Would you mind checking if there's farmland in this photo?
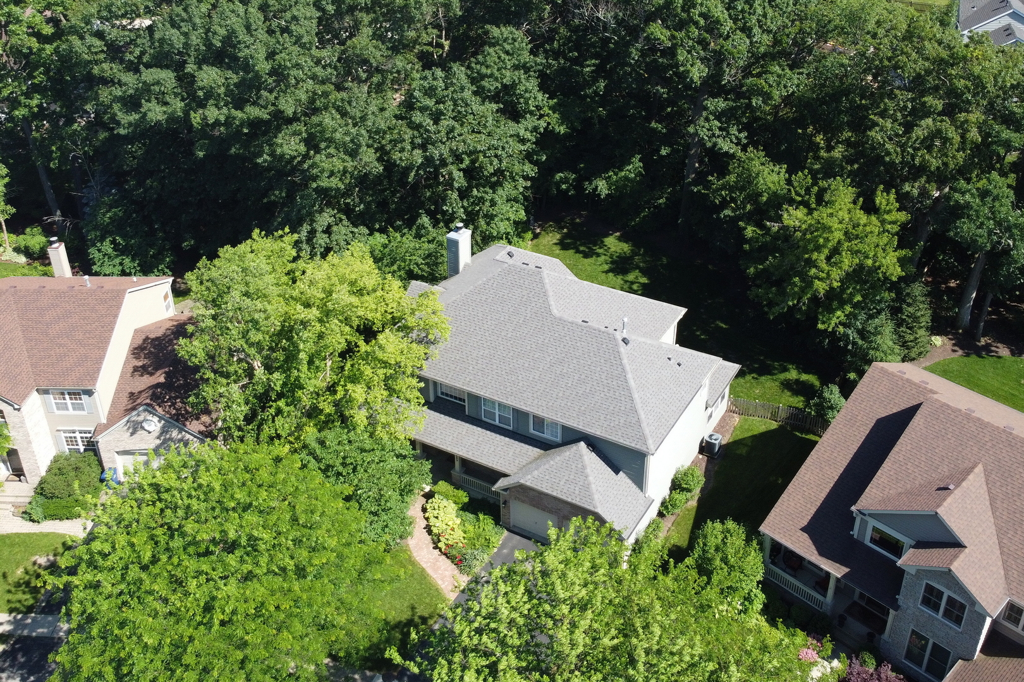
No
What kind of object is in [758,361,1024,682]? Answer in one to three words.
house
